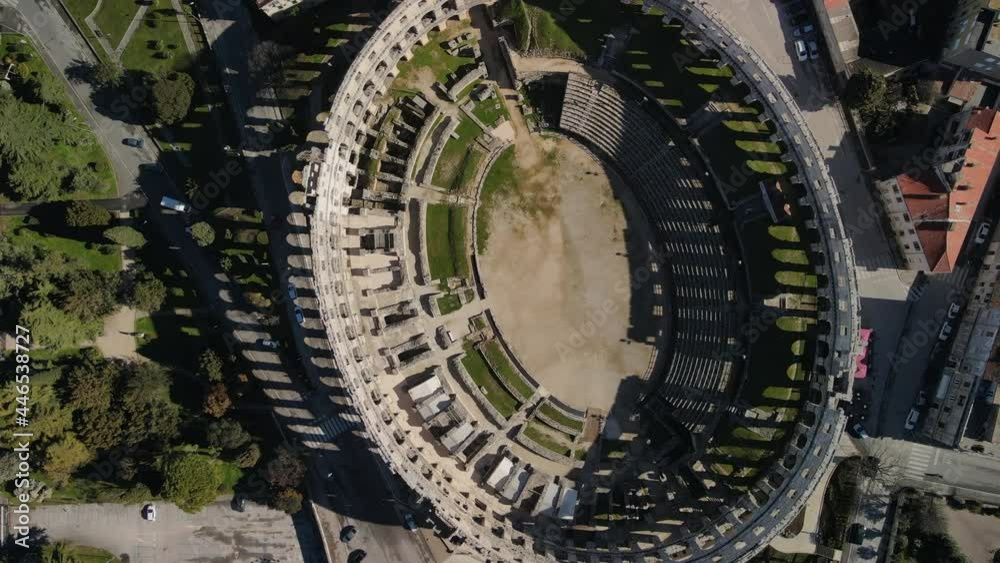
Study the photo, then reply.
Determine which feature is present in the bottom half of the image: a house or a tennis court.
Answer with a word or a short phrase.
house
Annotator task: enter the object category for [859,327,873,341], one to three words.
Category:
umbrella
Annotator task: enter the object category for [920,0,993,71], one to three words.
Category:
building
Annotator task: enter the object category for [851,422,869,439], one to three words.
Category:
car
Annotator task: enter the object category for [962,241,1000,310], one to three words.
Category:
house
